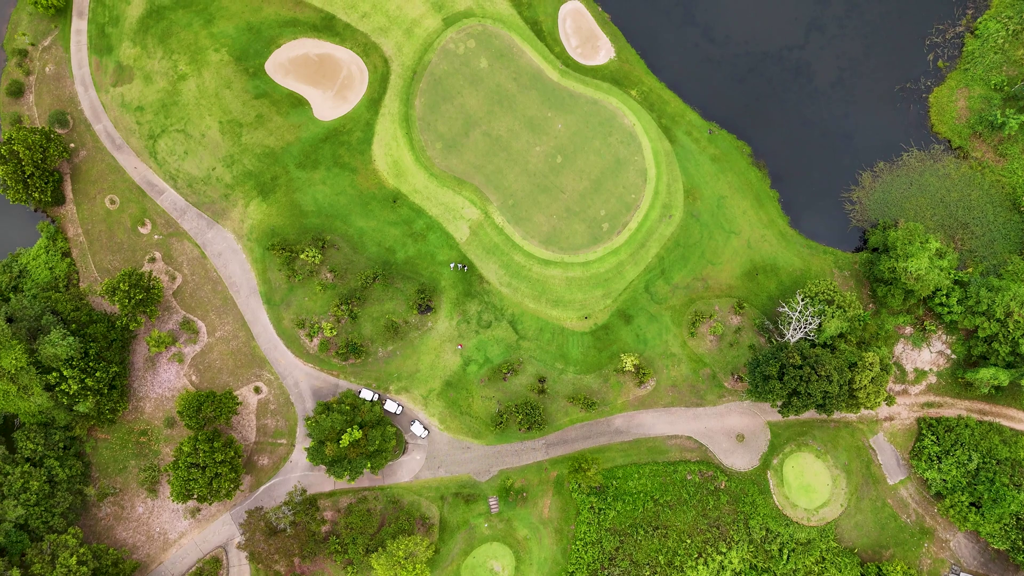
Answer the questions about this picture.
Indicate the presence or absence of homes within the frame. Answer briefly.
No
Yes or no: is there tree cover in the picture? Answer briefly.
Yes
